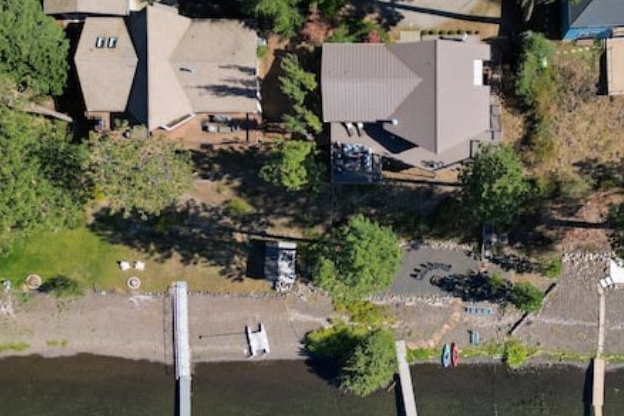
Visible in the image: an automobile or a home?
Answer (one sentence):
I can see a home in this picture.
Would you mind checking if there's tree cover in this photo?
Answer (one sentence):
Yes, there's tree cover in this view.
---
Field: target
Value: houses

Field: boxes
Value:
[319,21,501,185]
[74,5,265,152]
[564,0,624,99]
